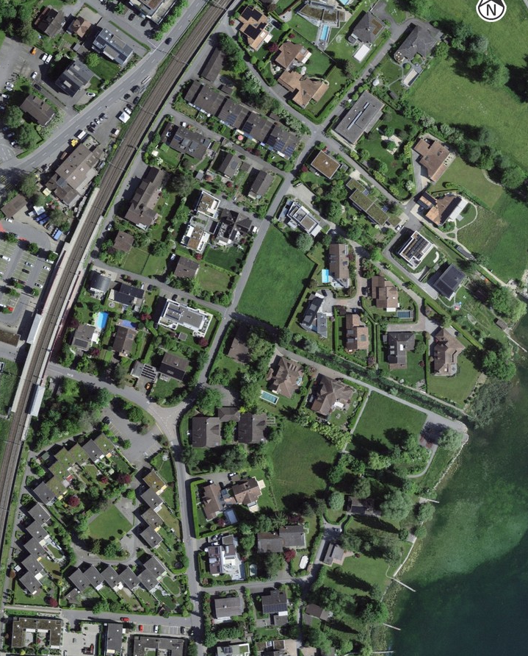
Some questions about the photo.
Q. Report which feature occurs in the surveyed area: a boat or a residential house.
residential house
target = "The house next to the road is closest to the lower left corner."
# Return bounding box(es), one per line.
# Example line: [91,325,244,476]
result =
[11,616,64,648]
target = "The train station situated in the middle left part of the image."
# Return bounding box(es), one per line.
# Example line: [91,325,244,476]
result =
[11,184,105,441]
